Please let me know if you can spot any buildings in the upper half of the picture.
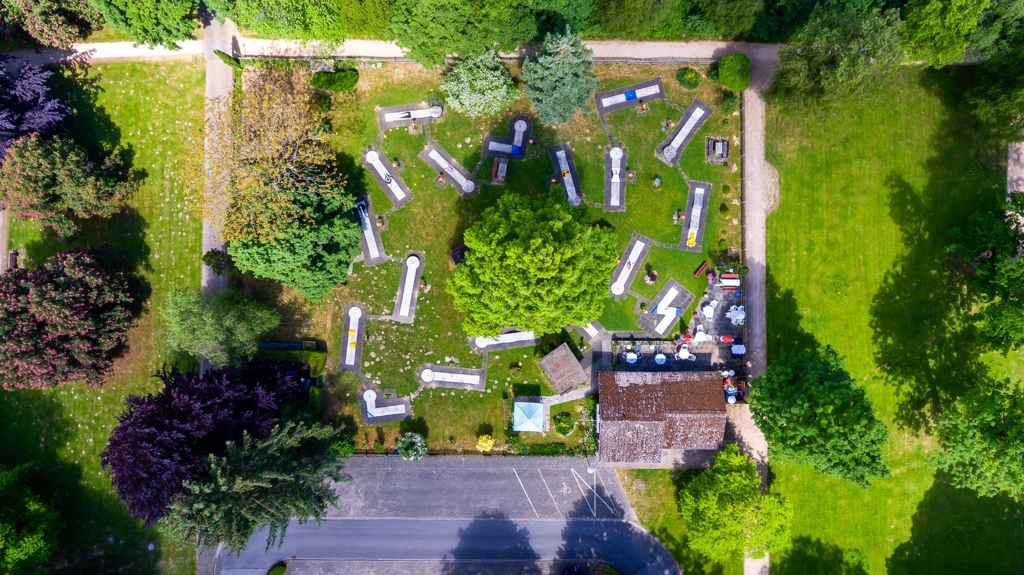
No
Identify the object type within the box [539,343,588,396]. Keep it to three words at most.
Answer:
shed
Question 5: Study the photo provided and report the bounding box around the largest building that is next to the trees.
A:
[597,371,726,463]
